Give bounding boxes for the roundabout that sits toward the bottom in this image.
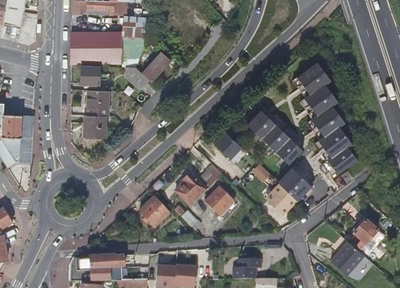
[33,165,107,238]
